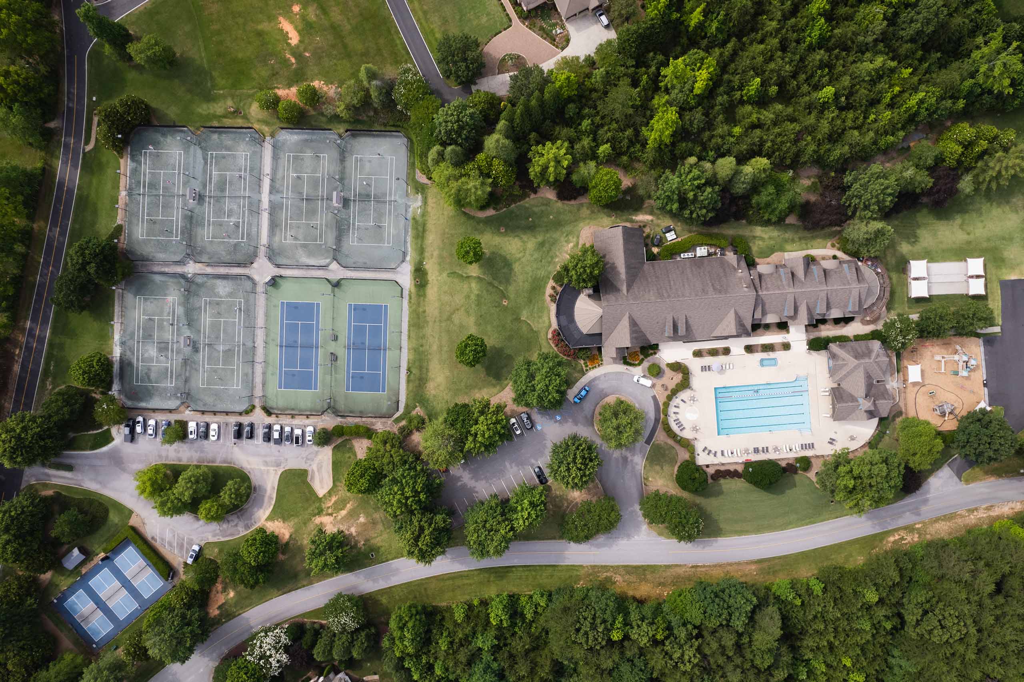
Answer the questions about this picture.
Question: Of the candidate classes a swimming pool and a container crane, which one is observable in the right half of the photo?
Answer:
swimming pool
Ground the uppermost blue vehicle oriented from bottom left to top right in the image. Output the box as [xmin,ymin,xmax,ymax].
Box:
[575,386,588,403]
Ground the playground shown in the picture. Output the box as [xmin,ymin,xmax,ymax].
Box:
[903,336,986,432]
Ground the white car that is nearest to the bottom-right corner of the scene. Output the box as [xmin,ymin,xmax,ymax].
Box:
[633,375,652,387]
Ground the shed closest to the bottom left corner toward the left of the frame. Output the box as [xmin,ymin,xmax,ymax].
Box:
[57,550,84,573]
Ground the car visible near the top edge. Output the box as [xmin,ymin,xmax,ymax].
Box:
[596,9,610,28]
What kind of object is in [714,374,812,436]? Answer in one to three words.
swimming pool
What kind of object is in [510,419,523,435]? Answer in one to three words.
vehicle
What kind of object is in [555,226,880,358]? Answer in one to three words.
building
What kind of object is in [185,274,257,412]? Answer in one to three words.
tennis court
